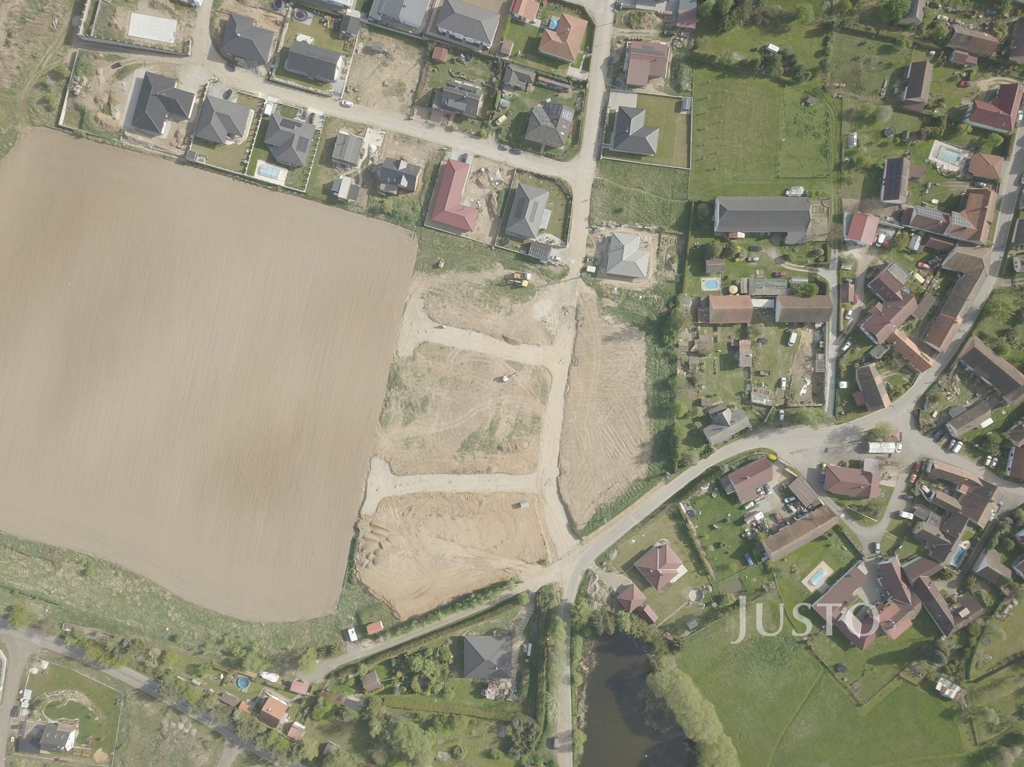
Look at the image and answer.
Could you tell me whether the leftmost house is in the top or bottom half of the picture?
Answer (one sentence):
The leftmost house is in the bottom half of the image.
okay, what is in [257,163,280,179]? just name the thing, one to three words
swimming pool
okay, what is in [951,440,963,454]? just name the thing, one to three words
vehicle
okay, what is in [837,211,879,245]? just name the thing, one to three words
building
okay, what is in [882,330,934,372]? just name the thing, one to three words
house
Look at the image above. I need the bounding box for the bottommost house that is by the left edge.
[19,720,82,756]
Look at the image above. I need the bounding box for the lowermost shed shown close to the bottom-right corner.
[932,677,966,701]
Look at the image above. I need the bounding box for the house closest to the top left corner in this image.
[131,71,198,134]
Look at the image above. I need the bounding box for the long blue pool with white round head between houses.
[948,542,967,571]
